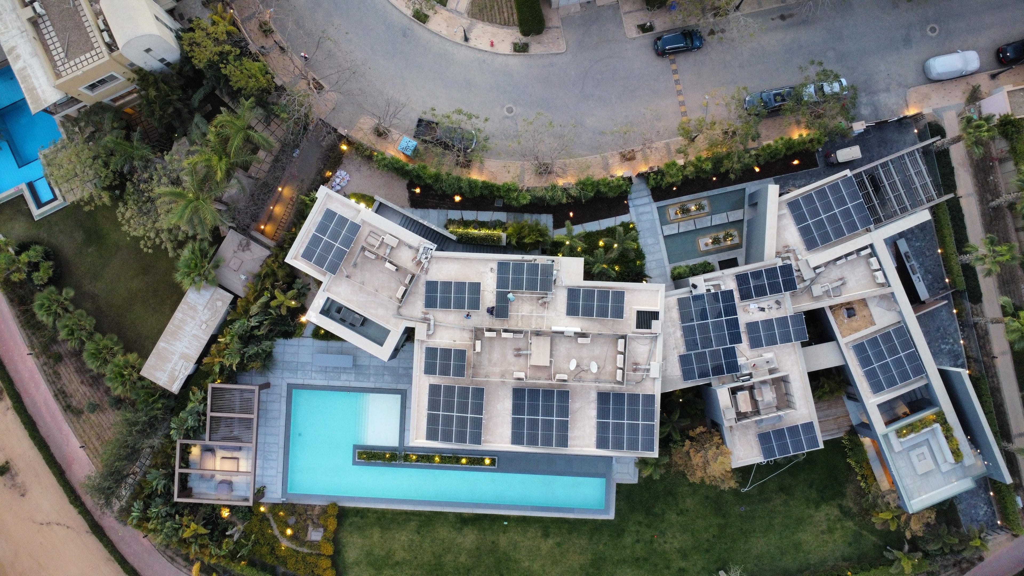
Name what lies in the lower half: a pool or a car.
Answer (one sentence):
The one visible in the lower half is a pool.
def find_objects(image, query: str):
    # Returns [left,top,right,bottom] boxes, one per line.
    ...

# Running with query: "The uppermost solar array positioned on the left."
[301,208,362,275]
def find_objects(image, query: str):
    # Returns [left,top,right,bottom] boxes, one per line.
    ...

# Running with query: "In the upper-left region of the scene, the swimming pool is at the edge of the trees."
[0,68,73,221]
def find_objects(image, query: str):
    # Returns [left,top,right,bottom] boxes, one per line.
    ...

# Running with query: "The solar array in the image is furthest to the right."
[852,326,922,395]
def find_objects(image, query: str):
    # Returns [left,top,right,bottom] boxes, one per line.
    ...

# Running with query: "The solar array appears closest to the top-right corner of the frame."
[787,176,874,252]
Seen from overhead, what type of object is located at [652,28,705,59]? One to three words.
car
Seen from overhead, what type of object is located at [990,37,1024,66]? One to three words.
car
